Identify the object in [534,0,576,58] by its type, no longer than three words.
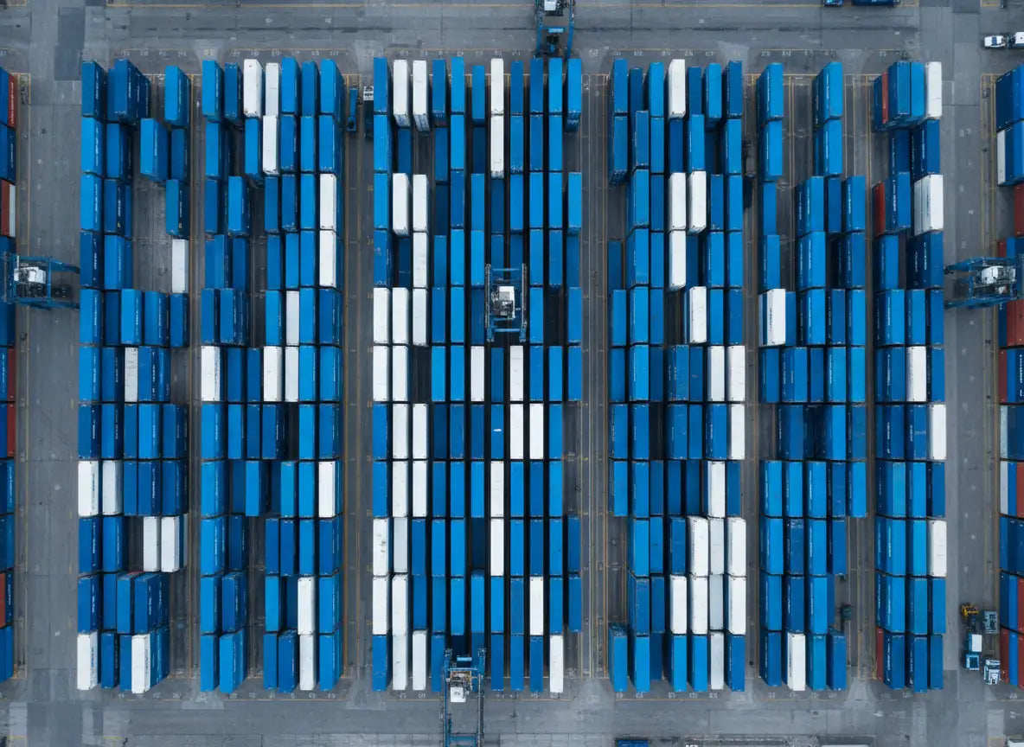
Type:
work vehicle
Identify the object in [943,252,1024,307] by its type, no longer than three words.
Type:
work vehicle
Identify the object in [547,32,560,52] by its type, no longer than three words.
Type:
vehicle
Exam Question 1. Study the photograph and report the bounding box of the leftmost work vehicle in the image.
[0,252,80,309]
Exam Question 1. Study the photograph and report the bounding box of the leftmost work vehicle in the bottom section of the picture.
[442,632,486,747]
